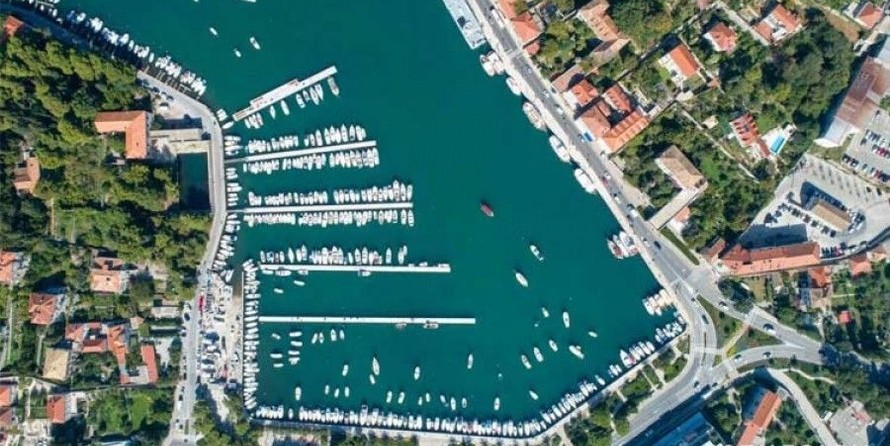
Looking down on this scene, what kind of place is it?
port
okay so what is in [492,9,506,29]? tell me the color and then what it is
white vehicle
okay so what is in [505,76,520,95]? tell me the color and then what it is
white boat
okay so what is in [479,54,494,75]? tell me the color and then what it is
white boat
